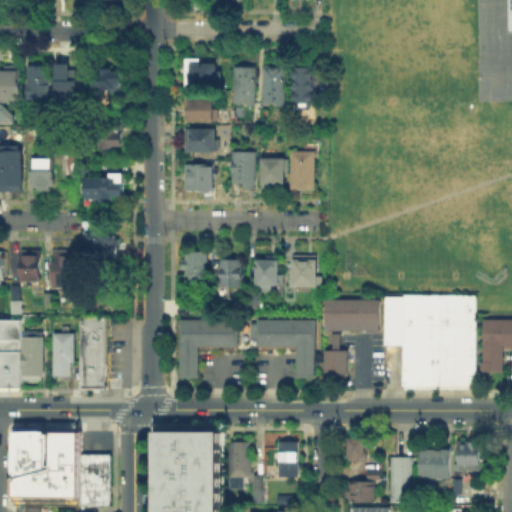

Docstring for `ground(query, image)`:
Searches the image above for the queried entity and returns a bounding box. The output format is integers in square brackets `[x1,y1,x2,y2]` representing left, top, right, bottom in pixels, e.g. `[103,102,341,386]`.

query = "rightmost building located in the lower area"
[480,319,512,374]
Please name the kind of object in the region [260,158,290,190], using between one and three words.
house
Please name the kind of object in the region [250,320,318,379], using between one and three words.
building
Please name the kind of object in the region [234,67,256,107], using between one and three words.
house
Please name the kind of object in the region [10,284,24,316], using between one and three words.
building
